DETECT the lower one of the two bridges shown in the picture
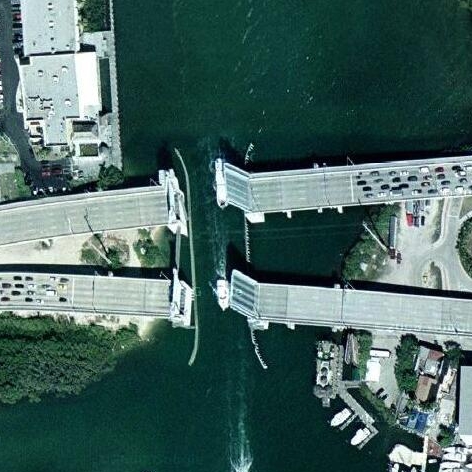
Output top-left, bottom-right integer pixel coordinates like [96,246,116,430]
[0,268,472,336]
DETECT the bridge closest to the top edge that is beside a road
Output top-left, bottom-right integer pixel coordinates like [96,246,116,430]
[0,155,472,244]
